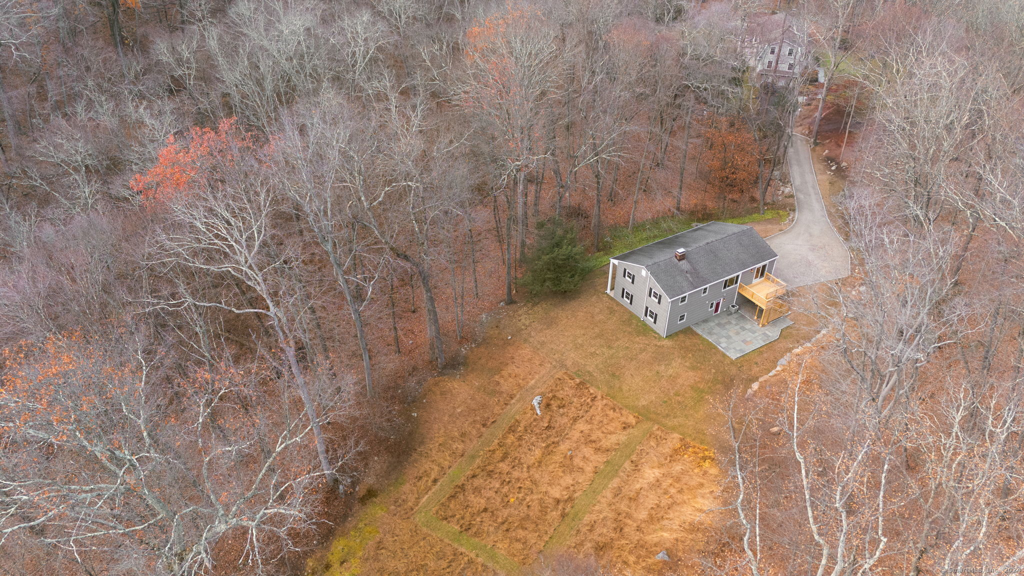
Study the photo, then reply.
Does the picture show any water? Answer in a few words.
No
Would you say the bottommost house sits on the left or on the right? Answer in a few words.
right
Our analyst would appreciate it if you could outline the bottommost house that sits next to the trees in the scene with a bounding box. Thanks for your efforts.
[607,222,779,335]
